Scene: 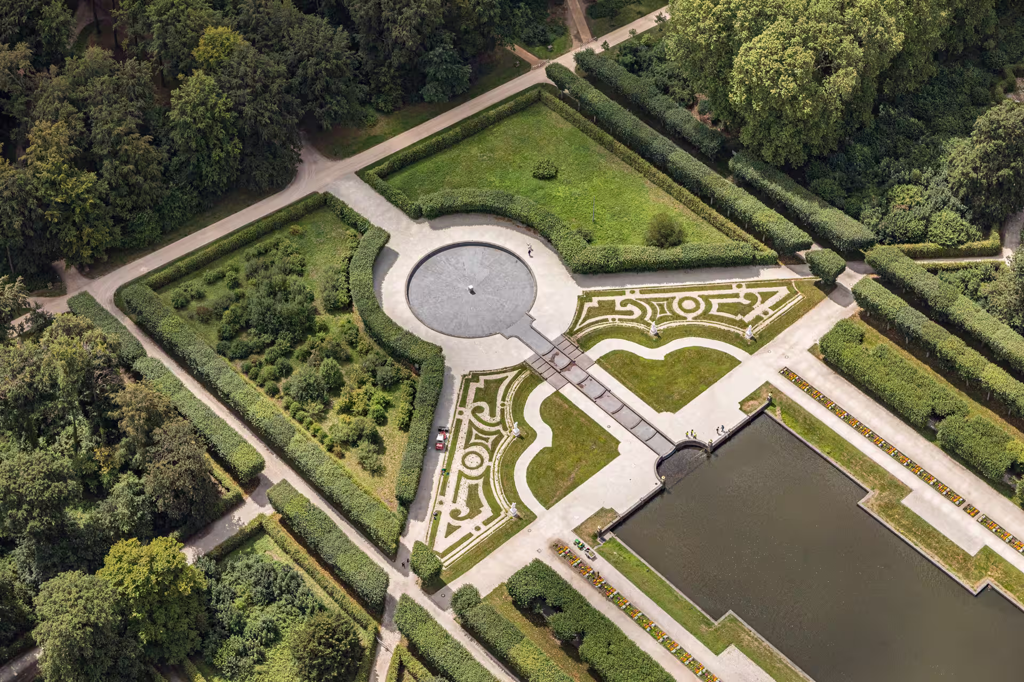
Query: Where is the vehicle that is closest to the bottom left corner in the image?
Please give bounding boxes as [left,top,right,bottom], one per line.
[434,424,447,447]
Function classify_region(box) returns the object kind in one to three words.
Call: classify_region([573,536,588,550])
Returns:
work vehicle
